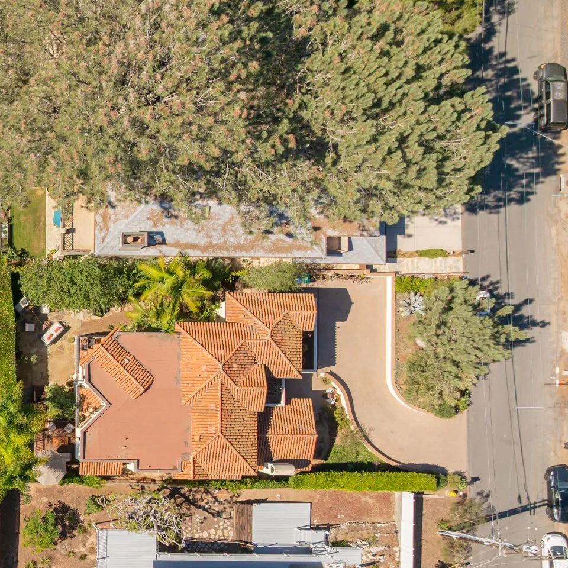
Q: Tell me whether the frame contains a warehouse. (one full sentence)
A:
No, there is no warehouse in the image.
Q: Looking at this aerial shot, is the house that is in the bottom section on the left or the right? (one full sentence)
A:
You can find the house that is in the bottom section on the left side of the picture.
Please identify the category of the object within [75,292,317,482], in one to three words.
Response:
house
